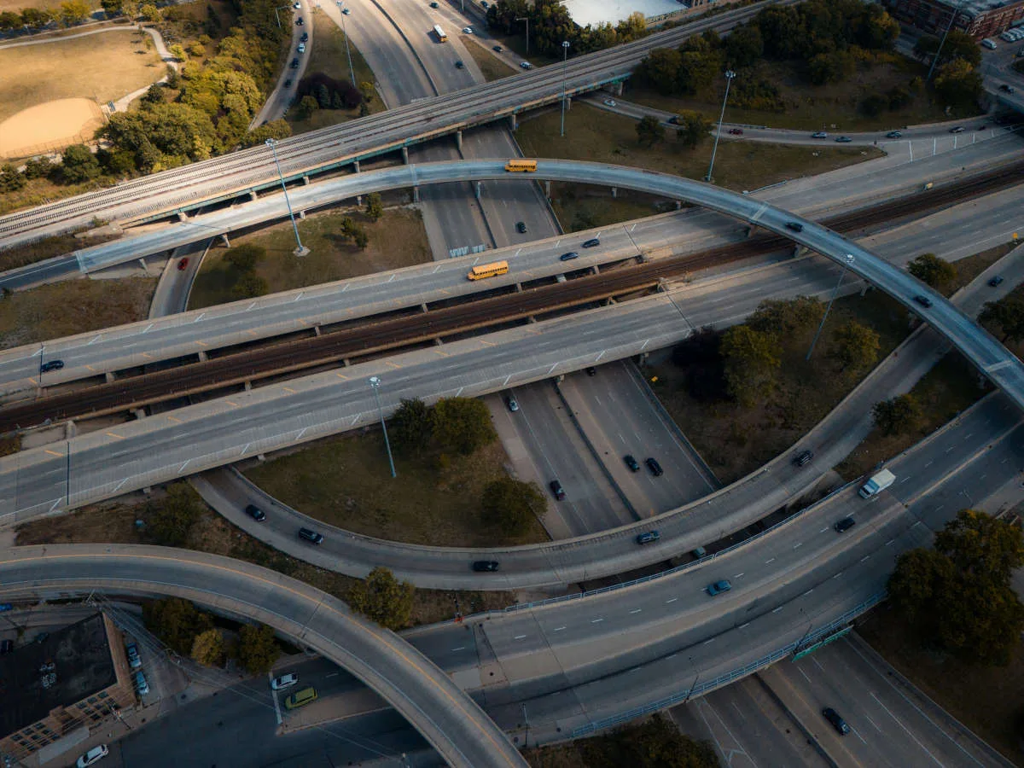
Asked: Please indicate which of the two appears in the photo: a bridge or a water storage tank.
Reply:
bridge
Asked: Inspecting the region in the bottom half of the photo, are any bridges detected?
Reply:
Yes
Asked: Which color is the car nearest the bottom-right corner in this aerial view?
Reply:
black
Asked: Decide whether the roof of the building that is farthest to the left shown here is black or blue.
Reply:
black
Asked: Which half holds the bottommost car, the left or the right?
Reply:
left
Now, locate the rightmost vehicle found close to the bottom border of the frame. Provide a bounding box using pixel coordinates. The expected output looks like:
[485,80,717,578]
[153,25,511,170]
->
[821,707,852,738]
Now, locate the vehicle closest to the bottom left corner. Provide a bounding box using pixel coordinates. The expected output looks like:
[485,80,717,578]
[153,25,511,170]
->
[72,741,112,768]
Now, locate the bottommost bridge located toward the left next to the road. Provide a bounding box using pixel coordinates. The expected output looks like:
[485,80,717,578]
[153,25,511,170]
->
[0,543,532,768]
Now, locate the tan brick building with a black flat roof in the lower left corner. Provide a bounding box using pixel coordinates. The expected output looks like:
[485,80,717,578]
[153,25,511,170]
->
[0,611,132,766]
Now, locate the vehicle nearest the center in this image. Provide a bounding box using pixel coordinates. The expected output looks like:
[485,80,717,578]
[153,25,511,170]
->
[506,395,518,410]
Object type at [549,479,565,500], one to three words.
car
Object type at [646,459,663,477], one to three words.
car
